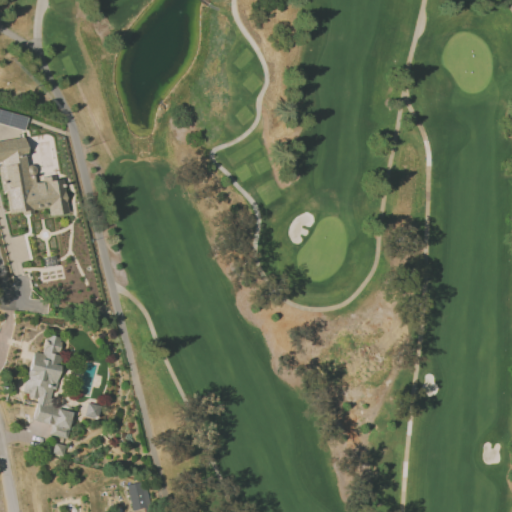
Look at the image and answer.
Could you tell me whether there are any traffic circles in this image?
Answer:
No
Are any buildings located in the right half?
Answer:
No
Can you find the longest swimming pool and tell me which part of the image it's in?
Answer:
bottom left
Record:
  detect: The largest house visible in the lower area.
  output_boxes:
[16,335,78,440]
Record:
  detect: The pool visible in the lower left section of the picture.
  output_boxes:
[82,362,102,396]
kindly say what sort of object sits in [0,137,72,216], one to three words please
house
